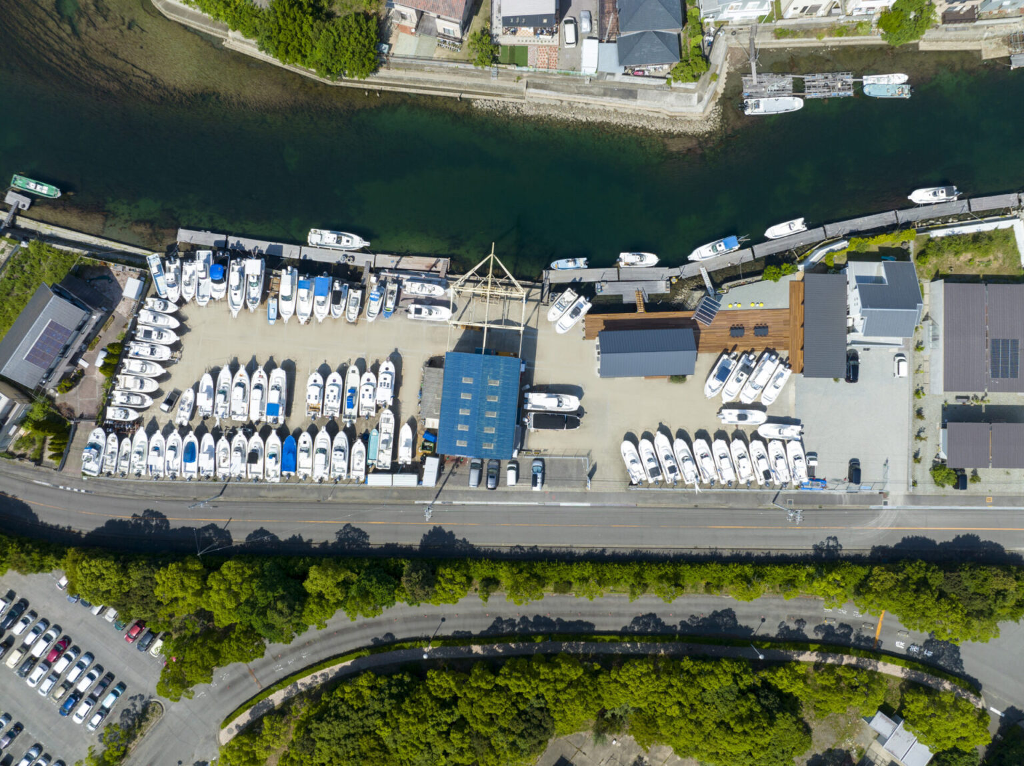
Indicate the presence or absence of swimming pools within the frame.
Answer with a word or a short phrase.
No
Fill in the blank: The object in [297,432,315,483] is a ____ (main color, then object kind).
white boat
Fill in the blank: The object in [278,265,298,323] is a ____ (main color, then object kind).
white boat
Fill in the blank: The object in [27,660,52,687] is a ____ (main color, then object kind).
white car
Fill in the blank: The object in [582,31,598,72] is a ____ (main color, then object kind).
white vehicle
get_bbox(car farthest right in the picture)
[951,468,968,494]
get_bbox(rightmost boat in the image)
[909,185,963,203]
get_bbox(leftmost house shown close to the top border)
[392,0,471,39]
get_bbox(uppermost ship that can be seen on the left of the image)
[11,175,60,197]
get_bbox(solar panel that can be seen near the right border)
[991,338,1019,378]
